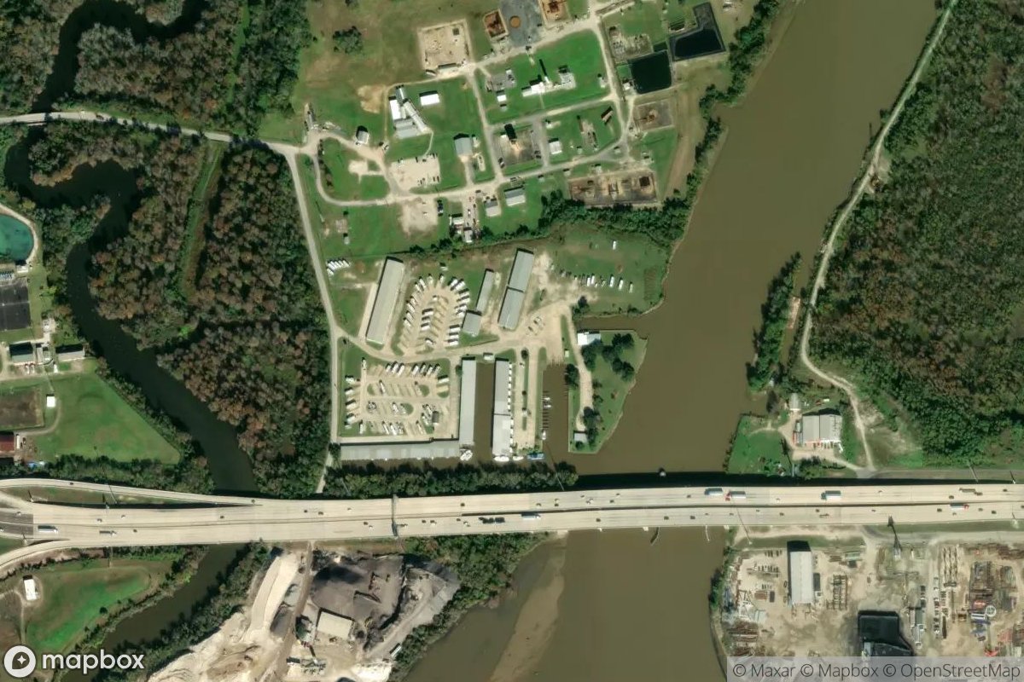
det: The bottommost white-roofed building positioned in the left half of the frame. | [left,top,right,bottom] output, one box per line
[316,611,352,641]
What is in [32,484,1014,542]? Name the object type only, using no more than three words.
bridge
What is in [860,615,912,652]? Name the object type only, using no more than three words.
building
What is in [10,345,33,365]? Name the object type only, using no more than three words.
house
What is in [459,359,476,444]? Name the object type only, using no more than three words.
shed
